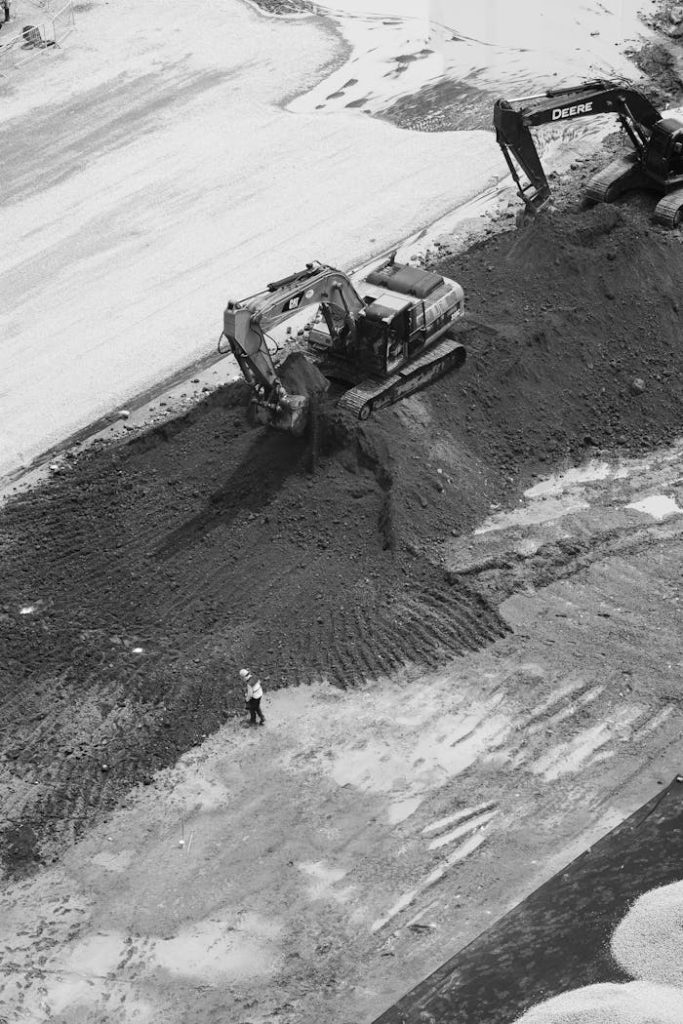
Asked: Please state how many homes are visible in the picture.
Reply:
0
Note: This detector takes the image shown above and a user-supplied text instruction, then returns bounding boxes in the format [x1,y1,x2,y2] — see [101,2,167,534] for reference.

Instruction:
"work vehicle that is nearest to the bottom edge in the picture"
[218,254,472,436]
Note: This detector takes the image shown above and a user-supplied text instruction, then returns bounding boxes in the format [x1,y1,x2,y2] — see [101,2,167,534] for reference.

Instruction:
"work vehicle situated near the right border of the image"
[495,63,683,231]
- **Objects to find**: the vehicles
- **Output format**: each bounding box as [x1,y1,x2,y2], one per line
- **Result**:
[218,254,472,436]
[495,63,683,231]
